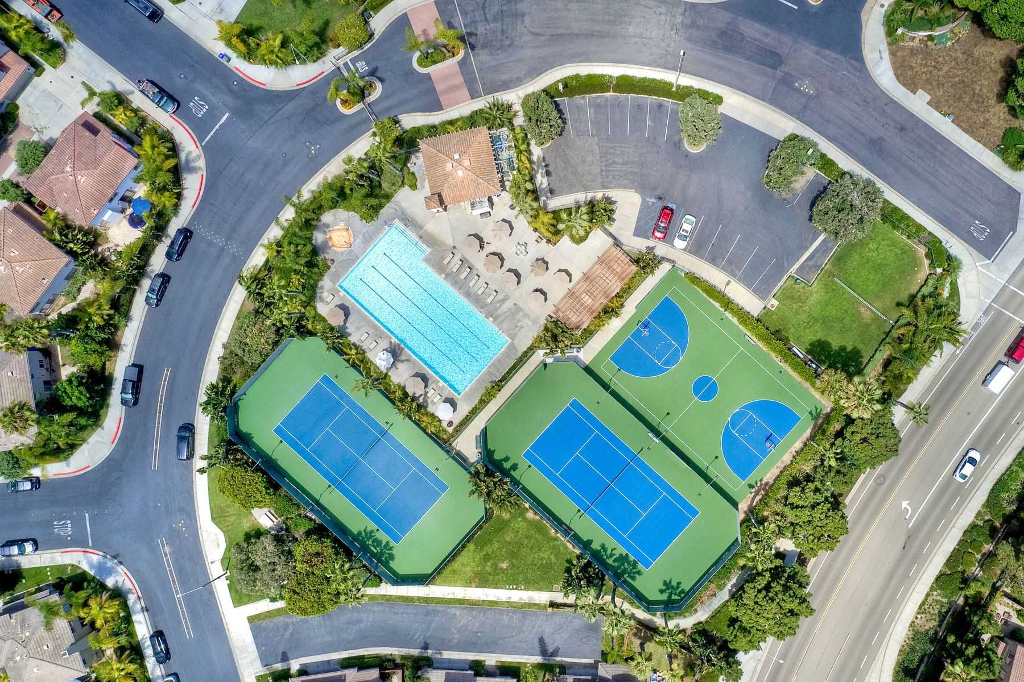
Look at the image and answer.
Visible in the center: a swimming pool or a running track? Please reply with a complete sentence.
There is a swimming pool in the center.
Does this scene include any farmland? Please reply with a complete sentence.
No, farmland can't be seen anywhere here.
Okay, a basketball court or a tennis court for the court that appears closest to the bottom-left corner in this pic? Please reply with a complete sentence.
Looking closely, the court that appears closest to the bottom-left corner is a tennis court.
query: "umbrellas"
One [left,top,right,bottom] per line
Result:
[406,377,425,396]
[531,259,547,275]
[482,252,502,273]
[131,196,152,215]
[459,235,480,256]
[491,220,511,240]
[525,289,544,308]
[436,402,453,420]
[550,269,571,291]
[326,308,344,326]
[374,351,393,370]
[497,270,518,291]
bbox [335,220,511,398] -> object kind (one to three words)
swimming pool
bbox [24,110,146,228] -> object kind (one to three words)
house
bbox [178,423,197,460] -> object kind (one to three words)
car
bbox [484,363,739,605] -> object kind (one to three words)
tennis court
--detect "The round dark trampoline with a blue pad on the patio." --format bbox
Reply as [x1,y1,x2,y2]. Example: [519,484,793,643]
[124,210,144,229]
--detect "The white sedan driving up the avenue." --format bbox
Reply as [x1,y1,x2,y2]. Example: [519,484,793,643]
[950,447,978,483]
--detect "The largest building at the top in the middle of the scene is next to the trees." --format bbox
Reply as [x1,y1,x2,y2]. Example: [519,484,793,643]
[417,124,503,207]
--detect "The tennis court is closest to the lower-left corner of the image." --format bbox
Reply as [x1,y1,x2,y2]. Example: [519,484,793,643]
[236,340,480,581]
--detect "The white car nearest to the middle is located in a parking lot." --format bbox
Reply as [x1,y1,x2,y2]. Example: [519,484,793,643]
[674,214,696,250]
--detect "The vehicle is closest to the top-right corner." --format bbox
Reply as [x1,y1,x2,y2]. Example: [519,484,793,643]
[1002,321,1024,359]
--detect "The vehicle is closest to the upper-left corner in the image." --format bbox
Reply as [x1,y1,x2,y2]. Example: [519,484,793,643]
[24,0,64,22]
